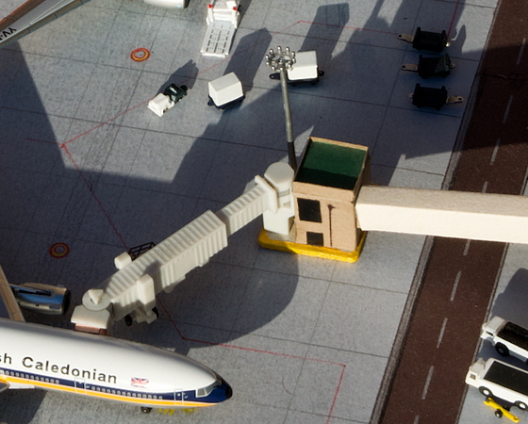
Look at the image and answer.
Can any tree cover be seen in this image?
No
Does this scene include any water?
No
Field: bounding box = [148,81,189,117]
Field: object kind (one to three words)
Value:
work vehicle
